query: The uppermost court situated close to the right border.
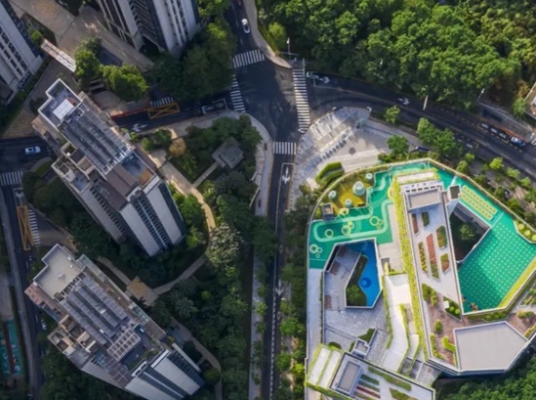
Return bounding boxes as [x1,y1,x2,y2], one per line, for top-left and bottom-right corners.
[396,161,516,226]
